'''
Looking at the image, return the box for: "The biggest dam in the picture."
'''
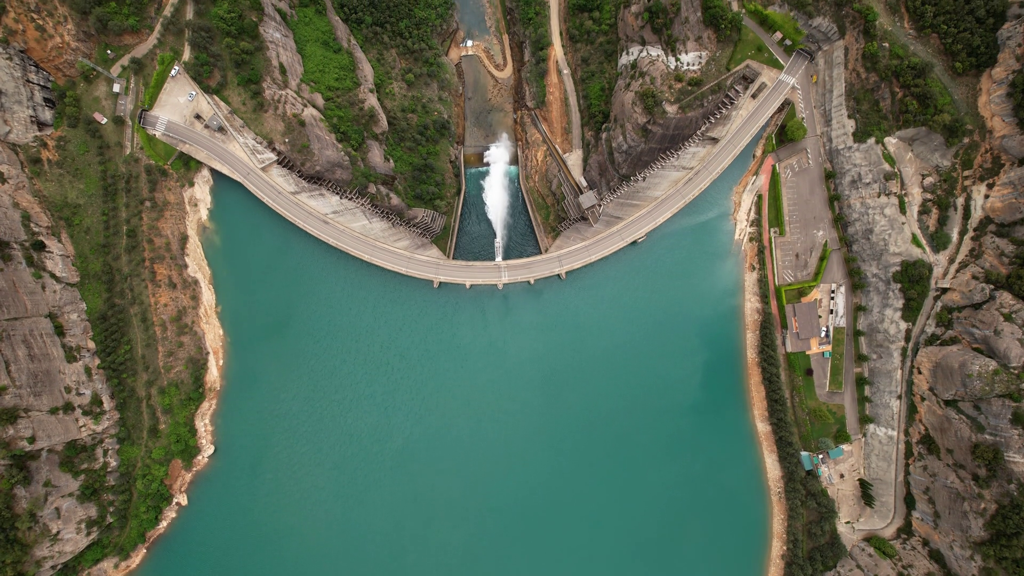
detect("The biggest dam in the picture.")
[138,45,813,290]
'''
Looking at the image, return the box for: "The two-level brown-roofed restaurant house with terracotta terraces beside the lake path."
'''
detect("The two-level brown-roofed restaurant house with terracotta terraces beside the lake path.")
[782,299,821,352]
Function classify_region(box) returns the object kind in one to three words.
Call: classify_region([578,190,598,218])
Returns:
building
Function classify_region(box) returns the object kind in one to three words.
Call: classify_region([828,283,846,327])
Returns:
building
